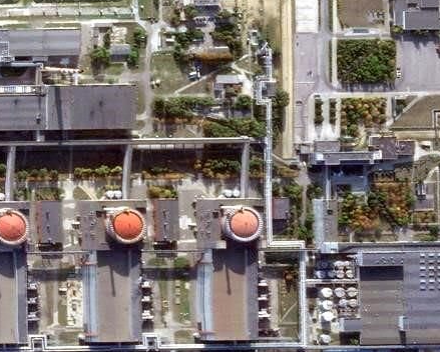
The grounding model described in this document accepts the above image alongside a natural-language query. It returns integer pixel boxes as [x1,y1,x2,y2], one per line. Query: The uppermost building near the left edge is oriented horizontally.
[0,30,82,57]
